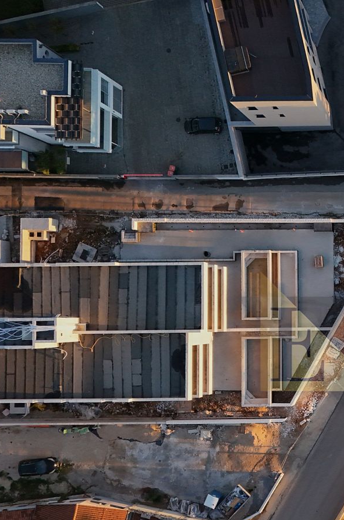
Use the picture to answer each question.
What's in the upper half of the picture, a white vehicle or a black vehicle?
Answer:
black vehicle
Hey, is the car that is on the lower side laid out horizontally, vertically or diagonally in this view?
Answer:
horizontally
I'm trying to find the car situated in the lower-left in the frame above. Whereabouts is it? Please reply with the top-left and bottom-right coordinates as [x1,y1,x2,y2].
[13,457,56,477]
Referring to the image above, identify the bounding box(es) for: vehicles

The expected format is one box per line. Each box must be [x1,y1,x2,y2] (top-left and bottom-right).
[182,113,222,133]
[13,457,56,477]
